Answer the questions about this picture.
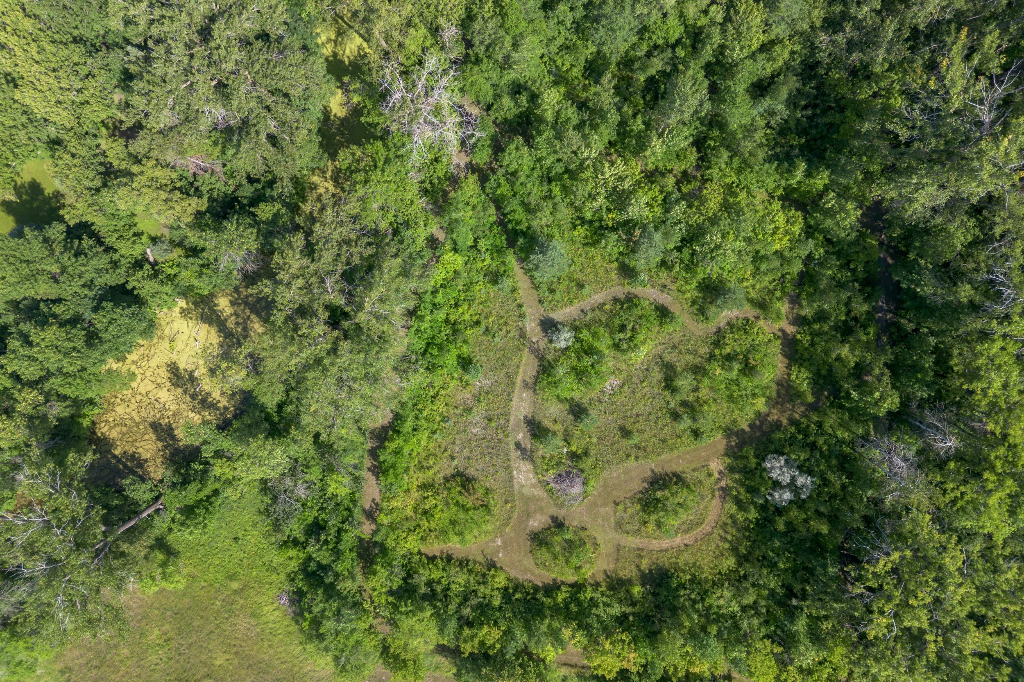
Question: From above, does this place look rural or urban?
rural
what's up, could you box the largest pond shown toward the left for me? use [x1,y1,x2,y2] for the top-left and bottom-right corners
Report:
[81,261,296,494]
